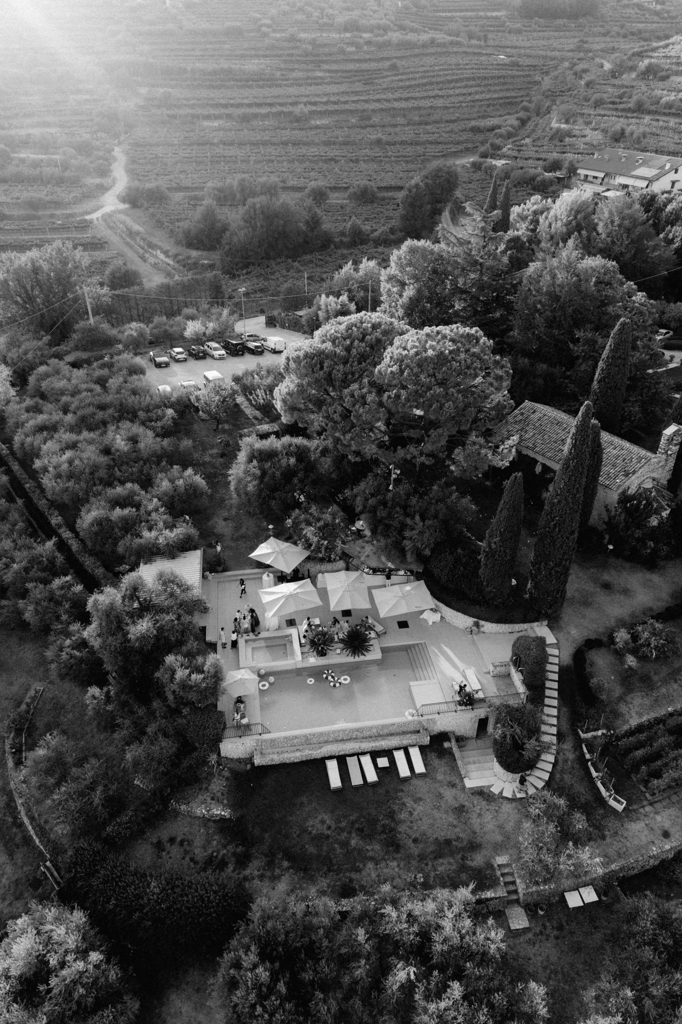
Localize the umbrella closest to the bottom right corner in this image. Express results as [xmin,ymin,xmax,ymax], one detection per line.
[370,580,440,629]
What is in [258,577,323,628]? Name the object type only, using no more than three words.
umbrella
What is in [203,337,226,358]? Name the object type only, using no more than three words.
car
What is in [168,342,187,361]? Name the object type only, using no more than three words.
car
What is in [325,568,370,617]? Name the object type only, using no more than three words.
umbrella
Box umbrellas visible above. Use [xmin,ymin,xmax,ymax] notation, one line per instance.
[325,568,370,617]
[247,536,313,583]
[258,577,323,628]
[370,580,440,629]
[220,659,260,703]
